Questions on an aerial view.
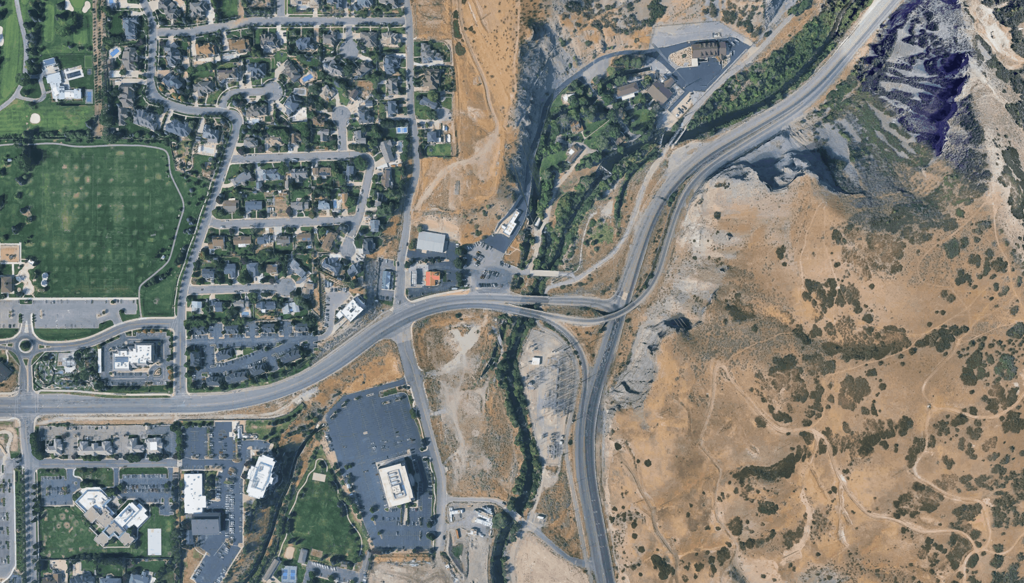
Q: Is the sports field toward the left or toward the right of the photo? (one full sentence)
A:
The sports field sits on the left side.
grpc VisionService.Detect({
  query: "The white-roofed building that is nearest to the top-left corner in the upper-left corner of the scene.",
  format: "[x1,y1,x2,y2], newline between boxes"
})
[46,73,83,101]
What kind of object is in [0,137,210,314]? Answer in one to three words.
sports field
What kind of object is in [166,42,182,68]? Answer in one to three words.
house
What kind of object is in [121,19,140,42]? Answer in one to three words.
house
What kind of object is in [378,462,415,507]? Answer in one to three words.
building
